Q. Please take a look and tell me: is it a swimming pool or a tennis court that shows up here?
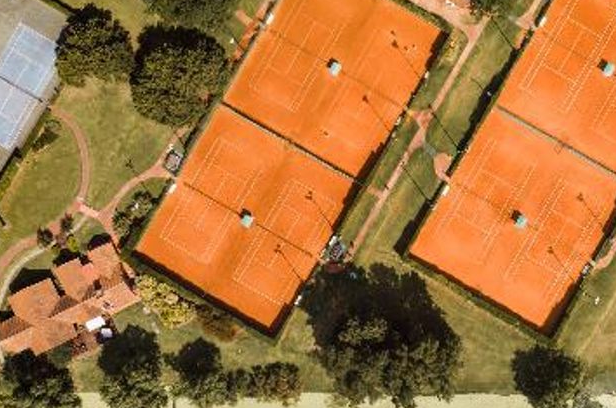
tennis court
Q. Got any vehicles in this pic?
No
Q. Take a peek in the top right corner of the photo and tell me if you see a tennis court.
Yes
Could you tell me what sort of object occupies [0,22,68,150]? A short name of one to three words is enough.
tennis court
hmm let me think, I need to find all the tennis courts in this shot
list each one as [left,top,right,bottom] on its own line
[214,0,373,142]
[567,56,616,171]
[497,0,616,143]
[410,107,565,298]
[0,22,68,150]
[481,146,616,340]
[127,101,290,296]
[292,0,449,183]
[203,144,362,337]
